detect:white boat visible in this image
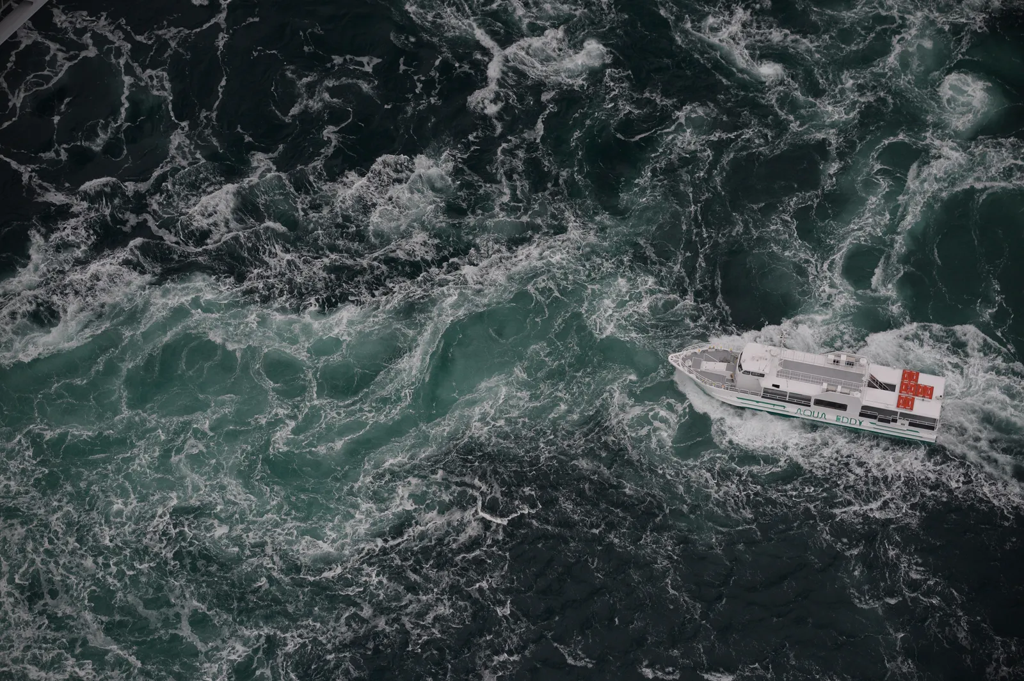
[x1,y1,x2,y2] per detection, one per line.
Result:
[668,325,945,442]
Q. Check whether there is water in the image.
Yes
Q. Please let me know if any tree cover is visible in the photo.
No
